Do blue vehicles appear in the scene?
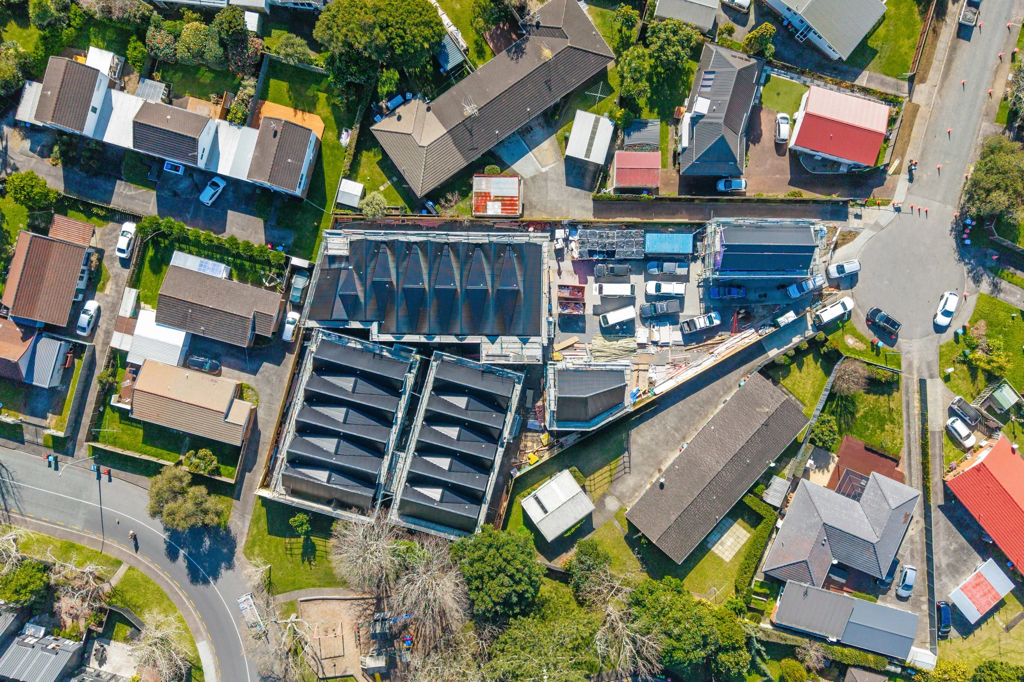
Yes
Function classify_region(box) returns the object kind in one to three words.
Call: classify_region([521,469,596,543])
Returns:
building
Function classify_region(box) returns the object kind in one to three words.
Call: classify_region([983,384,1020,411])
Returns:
shed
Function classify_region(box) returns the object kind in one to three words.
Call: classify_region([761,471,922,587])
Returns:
house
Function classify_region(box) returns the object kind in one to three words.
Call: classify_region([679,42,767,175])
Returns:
house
